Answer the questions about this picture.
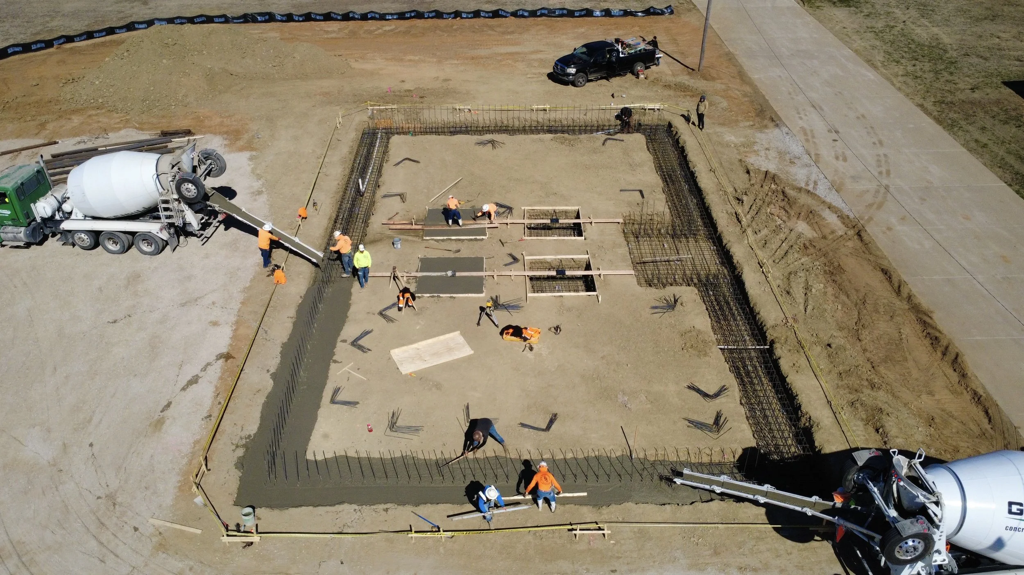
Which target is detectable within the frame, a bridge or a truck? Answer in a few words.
truck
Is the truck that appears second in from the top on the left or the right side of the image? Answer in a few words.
left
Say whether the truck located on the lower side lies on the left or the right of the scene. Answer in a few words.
right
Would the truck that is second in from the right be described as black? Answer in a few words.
Yes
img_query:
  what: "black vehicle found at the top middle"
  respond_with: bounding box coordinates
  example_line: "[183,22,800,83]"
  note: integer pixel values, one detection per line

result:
[547,33,667,86]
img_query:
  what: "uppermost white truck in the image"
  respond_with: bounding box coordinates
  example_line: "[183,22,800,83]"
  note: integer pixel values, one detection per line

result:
[0,134,326,267]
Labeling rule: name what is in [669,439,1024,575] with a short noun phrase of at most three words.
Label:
truck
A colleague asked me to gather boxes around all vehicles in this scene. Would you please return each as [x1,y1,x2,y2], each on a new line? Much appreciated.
[0,134,326,267]
[547,33,667,86]
[669,439,1024,575]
